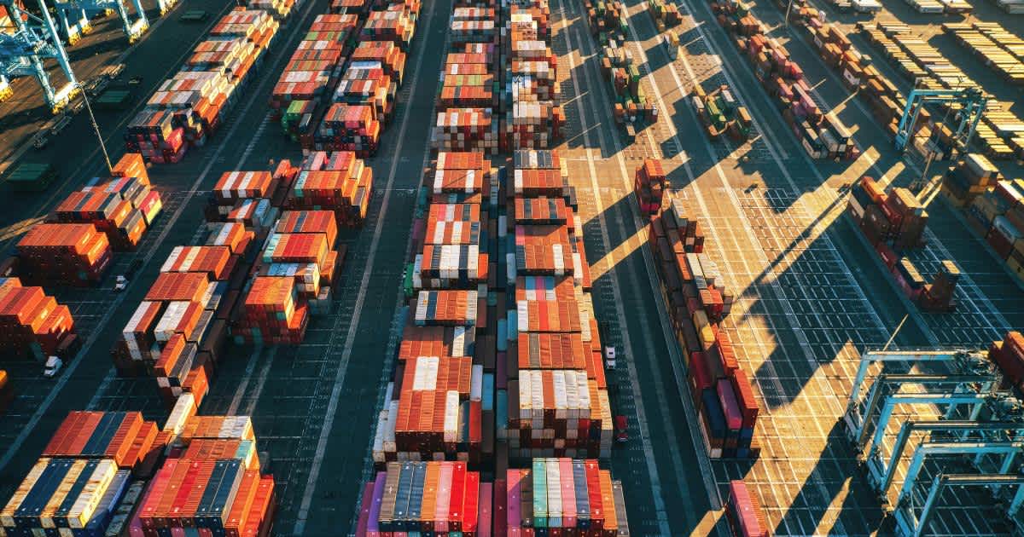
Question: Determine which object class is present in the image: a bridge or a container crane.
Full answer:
There is a container crane in the scene.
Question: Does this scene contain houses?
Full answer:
No, there's no house here.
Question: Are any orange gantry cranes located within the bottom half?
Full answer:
No, looking within the bottom half, there is no orange gantry crane.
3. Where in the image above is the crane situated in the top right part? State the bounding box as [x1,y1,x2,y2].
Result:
[896,84,997,155]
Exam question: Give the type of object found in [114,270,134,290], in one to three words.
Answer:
vehicle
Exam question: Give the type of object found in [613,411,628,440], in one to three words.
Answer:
vehicle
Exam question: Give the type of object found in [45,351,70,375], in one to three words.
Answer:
truck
